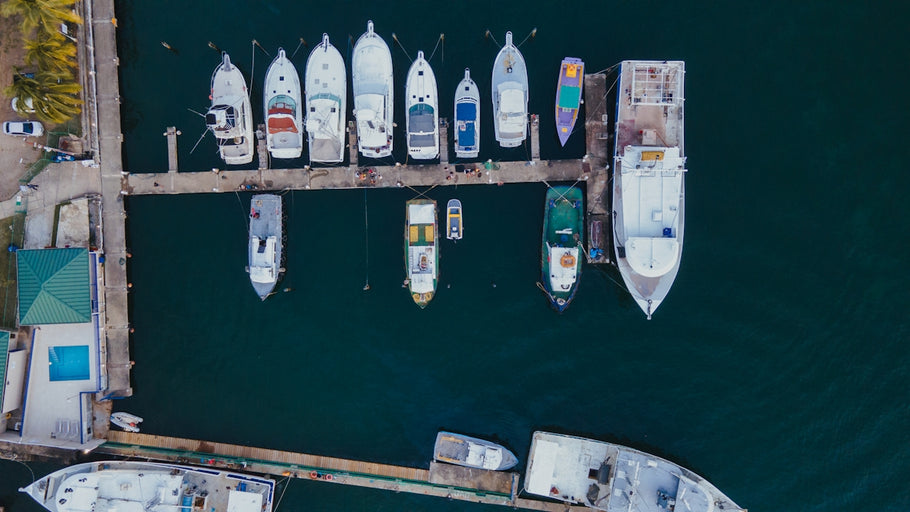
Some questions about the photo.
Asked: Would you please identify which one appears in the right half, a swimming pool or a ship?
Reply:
ship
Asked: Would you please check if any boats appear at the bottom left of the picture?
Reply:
Yes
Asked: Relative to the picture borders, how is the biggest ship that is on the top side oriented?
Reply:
up and down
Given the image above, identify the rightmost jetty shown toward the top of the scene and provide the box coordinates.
[584,73,610,263]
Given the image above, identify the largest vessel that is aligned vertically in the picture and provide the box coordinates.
[612,61,688,319]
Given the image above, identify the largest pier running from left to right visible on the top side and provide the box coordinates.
[122,160,587,195]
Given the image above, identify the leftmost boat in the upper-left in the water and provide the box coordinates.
[188,52,255,165]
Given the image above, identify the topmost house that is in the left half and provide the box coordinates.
[15,247,92,325]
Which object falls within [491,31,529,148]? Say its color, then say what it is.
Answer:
white boat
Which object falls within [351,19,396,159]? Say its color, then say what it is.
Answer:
white boat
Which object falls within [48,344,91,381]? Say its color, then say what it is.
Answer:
blue swimming pool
